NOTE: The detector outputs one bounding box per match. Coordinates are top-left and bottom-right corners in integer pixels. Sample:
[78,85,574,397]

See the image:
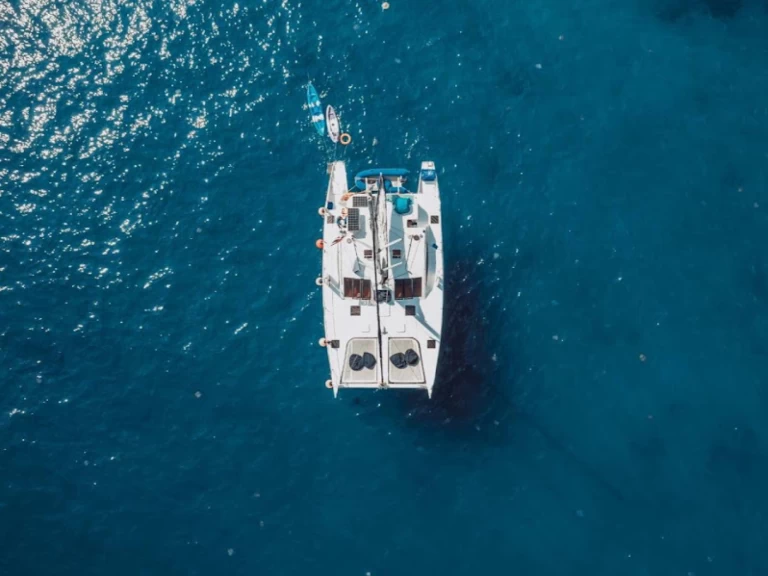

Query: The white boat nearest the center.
[322,161,443,398]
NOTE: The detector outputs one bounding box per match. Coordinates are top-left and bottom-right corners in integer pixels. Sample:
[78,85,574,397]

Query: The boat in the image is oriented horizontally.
[348,168,413,193]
